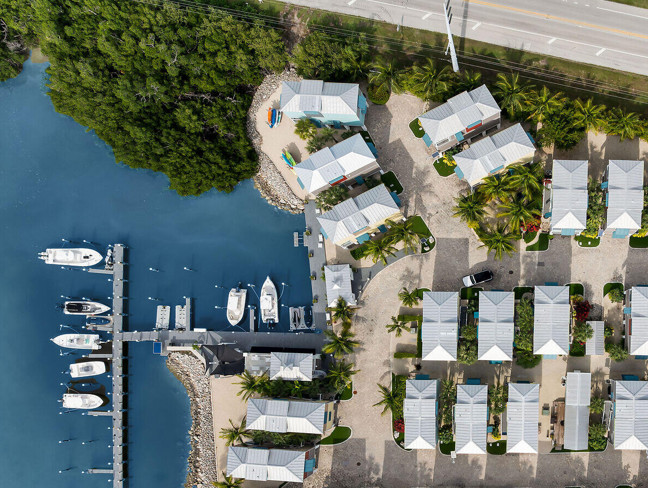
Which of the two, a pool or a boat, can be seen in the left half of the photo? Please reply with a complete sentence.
The one visible in the left half of the photo is a boat.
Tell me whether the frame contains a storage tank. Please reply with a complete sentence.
No, the photo shows no storage tank.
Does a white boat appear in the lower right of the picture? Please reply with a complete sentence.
No, in the lower right of the picture there is no white boat.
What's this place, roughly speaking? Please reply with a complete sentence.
The picture captures a residential area.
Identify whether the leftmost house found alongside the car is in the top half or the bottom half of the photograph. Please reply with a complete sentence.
The leftmost house found alongside the car is in the bottom half of the image.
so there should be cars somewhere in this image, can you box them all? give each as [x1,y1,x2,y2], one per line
[463,269,493,288]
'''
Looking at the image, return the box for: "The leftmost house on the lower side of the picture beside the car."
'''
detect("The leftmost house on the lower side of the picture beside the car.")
[421,287,464,366]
